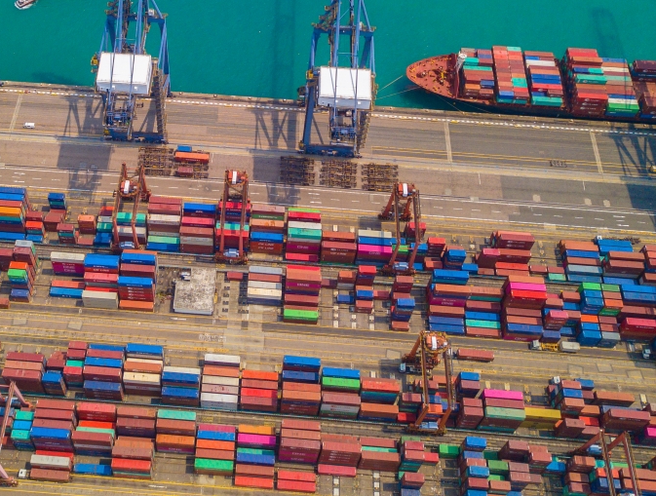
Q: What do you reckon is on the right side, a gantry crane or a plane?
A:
gantry crane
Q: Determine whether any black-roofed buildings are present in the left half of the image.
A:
No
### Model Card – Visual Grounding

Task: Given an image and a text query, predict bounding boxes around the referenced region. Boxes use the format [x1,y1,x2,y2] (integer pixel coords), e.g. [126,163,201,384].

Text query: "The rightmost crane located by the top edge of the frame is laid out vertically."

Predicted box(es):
[299,0,375,162]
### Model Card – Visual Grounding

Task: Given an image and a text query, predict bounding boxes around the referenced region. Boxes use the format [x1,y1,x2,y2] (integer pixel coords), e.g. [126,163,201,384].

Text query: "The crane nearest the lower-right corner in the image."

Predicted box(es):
[565,426,638,496]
